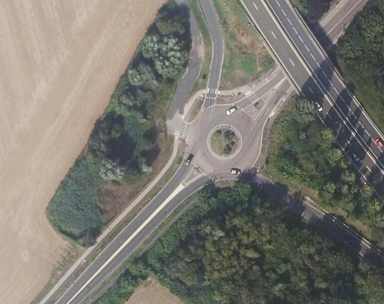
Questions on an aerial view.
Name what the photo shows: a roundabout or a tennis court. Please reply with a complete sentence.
Looking from above, you can make out a roundabout.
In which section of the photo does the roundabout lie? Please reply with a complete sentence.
You can find the roundabout in the center area of the picture.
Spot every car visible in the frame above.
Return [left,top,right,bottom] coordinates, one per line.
[374,138,384,148]
[229,168,240,174]
[226,106,236,115]
[184,154,194,165]
[350,152,360,162]
[314,102,322,112]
